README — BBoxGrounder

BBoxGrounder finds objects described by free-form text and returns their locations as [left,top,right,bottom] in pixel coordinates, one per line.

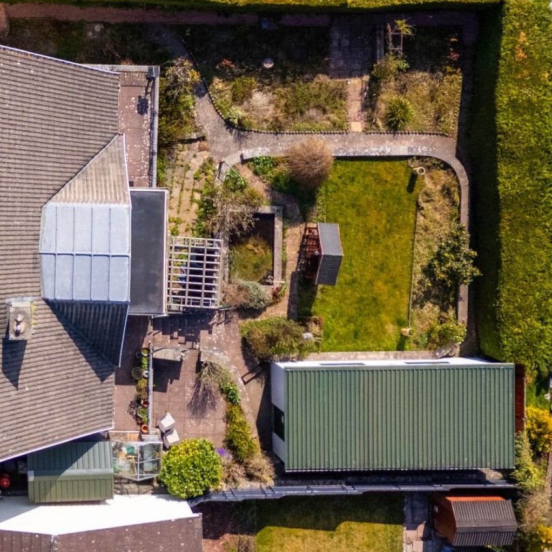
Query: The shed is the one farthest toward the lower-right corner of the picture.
[431,488,517,546]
